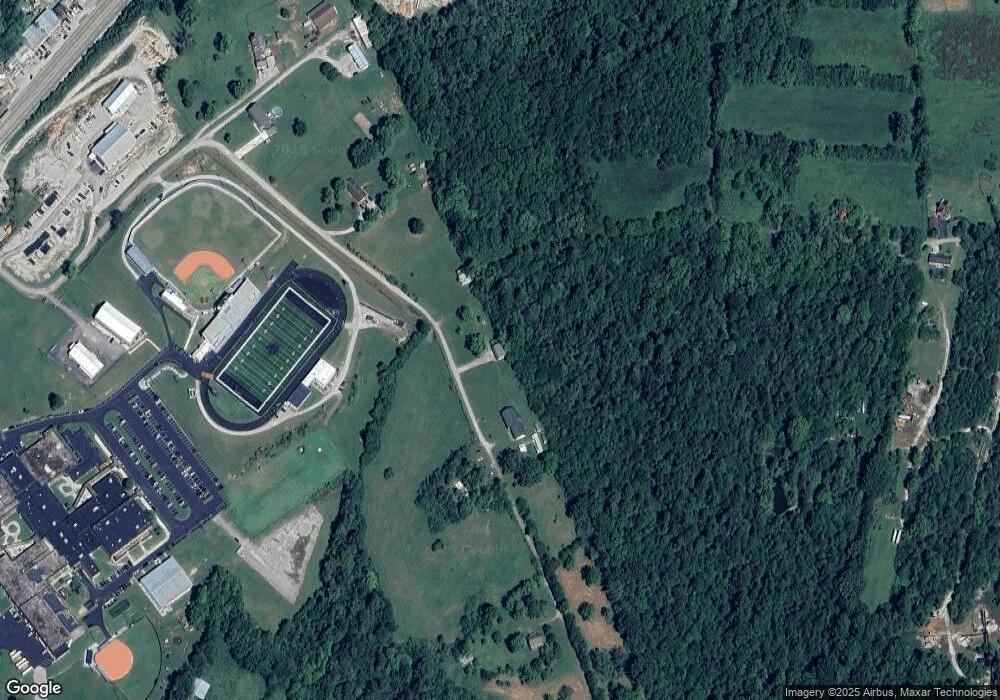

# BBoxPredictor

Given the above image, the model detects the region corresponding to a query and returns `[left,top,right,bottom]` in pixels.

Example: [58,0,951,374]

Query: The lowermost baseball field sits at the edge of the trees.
[95,618,160,700]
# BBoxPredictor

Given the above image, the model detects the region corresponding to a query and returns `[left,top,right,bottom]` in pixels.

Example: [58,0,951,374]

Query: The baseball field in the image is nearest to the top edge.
[134,179,281,309]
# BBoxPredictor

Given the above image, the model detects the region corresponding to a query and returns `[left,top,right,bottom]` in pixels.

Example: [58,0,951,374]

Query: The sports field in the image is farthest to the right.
[213,283,336,417]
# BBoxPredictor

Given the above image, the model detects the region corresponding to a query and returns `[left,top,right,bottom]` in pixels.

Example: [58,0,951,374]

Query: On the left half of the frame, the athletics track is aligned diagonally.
[201,259,348,432]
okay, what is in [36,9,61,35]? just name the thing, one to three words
building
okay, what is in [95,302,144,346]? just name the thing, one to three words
shed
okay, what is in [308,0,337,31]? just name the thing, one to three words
barn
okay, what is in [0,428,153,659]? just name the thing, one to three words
building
